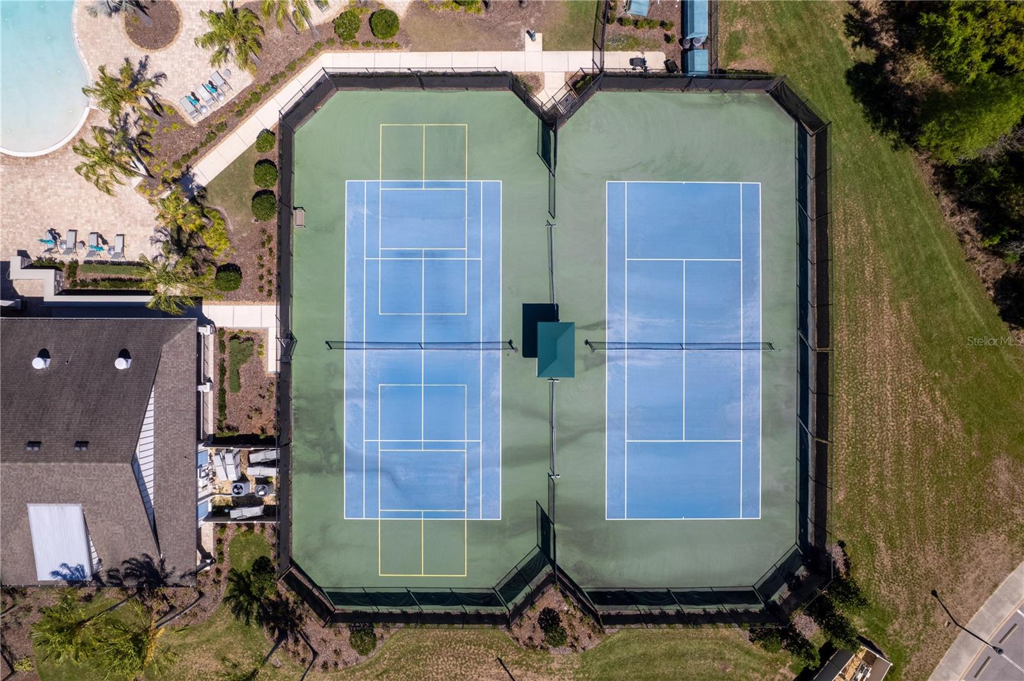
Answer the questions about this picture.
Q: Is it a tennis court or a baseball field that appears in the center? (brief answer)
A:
tennis court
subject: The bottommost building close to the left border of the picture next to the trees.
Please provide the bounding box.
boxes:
[0,316,212,587]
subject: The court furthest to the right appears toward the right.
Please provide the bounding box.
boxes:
[555,91,811,609]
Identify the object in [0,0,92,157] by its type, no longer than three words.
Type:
swimming pool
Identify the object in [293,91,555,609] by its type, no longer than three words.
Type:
tennis court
